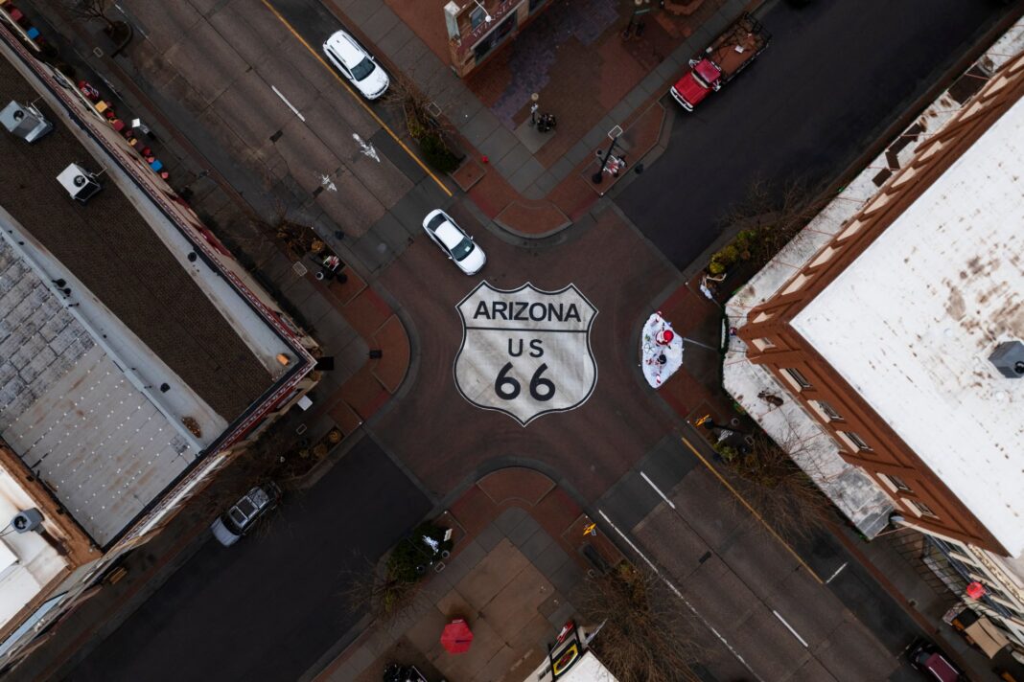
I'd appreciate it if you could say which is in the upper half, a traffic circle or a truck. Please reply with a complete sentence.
Looking in the upper half, you will find a truck.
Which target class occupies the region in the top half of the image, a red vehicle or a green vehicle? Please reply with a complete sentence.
Visible in the top half of the image is a red vehicle.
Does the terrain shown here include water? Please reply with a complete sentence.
No, there is no water in the image.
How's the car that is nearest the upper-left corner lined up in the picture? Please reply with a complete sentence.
The car that is nearest the upper-left corner has been laid out diagonally relative to the frame.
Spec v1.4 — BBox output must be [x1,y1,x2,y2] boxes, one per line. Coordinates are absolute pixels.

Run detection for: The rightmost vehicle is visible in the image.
[892,631,964,682]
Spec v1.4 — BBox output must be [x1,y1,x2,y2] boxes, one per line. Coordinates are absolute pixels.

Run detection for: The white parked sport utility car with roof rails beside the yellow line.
[323,29,391,102]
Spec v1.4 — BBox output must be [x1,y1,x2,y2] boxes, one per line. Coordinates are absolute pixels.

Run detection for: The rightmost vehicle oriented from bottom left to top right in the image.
[668,6,775,115]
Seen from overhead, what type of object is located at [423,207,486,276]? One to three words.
car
